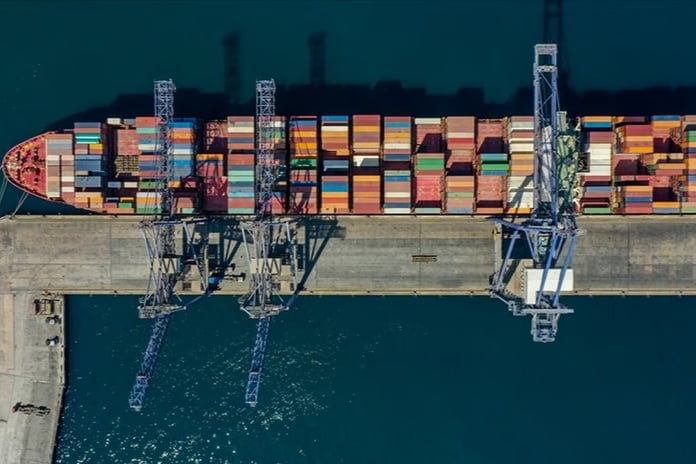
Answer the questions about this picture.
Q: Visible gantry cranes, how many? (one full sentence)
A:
In total, 3 gantry cranes can be seen.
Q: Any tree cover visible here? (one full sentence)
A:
No, the picture contains no tree cover.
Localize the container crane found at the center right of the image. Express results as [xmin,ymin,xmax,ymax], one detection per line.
[488,43,578,344]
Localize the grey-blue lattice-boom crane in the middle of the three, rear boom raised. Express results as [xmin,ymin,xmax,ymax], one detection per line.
[237,75,301,410]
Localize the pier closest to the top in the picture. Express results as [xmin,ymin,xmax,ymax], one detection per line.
[28,215,696,297]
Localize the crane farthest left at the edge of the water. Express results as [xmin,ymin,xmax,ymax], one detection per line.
[129,75,217,410]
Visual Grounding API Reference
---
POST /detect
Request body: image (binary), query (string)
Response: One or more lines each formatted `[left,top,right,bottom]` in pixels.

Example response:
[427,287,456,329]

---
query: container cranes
[237,75,301,410]
[129,75,217,410]
[488,43,578,344]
